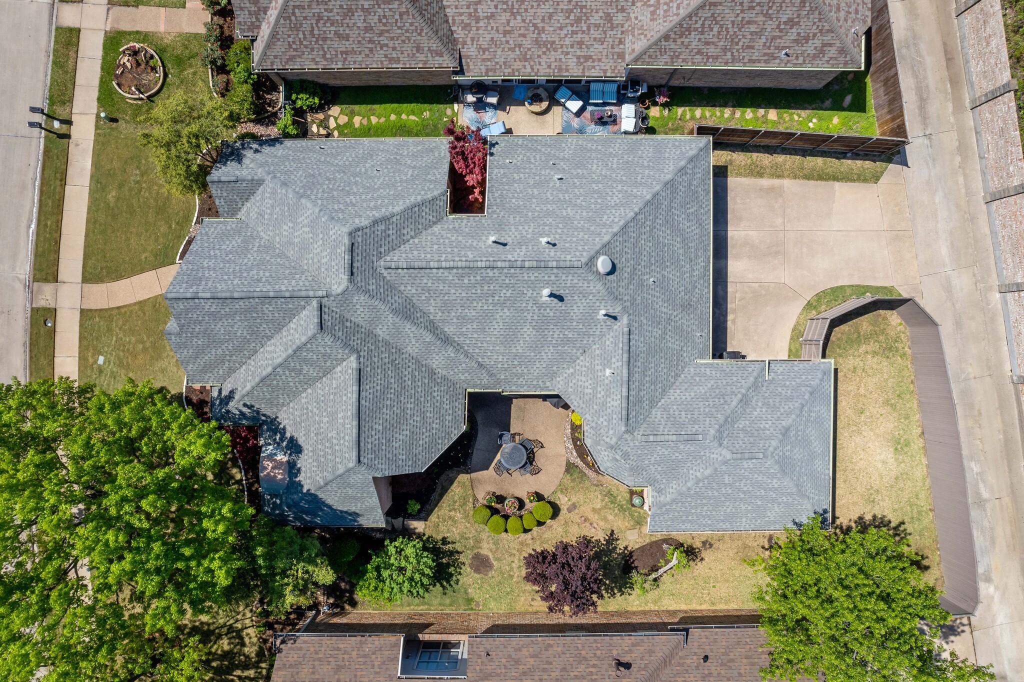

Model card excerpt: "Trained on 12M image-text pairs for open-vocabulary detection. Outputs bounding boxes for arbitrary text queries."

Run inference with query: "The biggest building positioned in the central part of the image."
[163,133,835,534]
